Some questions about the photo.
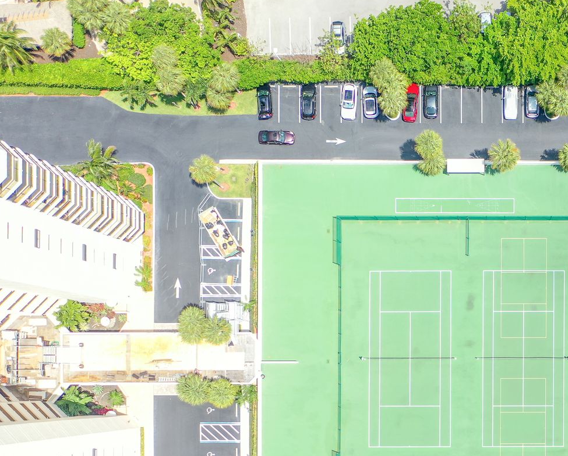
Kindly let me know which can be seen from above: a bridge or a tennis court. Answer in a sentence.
Visible in the photo is a tennis court.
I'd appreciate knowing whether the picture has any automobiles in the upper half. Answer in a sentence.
Yes, an automobile is visible in the upper half.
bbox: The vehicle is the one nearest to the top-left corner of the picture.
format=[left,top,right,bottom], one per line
[255,86,273,120]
